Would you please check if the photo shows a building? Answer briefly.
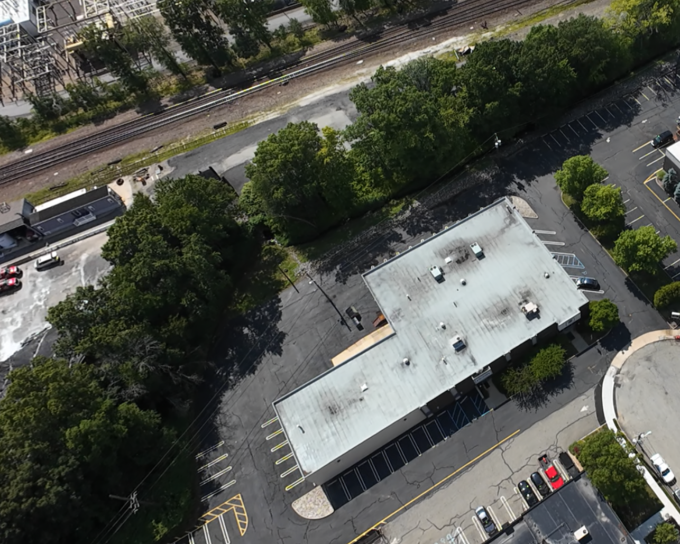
Yes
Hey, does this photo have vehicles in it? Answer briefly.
Yes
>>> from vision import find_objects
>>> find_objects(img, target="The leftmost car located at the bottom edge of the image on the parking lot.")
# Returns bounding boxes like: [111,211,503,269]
[475,504,498,536]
